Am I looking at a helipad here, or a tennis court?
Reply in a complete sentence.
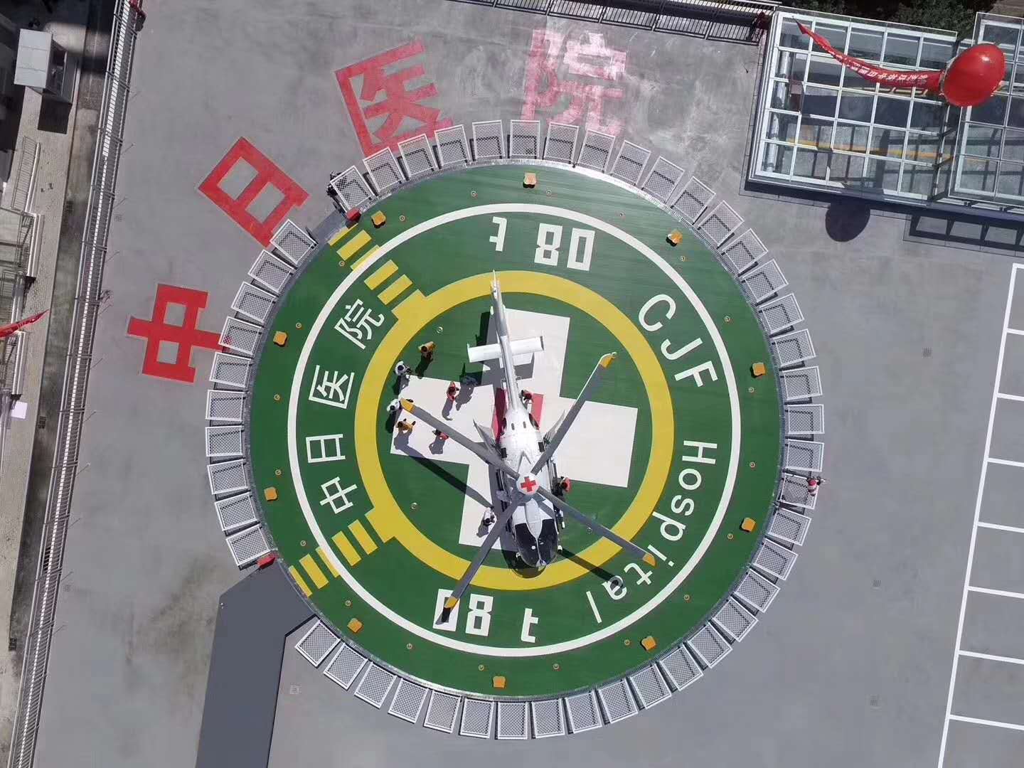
I can see a helipad in this picture.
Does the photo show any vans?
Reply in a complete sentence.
No, the scene contains no van.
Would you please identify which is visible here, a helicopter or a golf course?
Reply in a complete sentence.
Looking from above, you can make out a helicopter.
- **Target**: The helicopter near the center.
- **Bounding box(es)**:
[403,273,653,608]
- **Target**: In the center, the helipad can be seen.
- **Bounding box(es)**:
[240,154,790,705]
